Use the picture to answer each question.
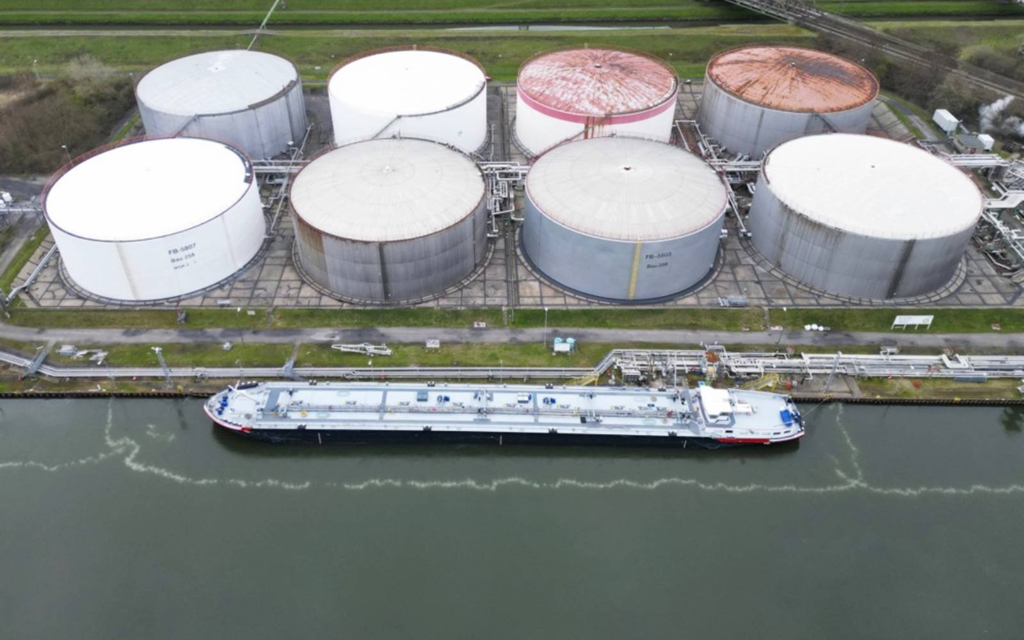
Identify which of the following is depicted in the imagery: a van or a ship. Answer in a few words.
ship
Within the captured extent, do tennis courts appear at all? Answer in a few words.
No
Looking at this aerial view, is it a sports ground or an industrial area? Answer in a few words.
industrial area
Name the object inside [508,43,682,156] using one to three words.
storage tank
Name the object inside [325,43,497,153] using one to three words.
storage tank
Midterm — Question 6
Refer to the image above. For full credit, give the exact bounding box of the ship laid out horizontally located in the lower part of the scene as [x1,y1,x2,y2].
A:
[203,351,803,453]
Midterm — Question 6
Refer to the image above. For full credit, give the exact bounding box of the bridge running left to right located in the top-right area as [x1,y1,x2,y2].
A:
[725,0,812,26]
